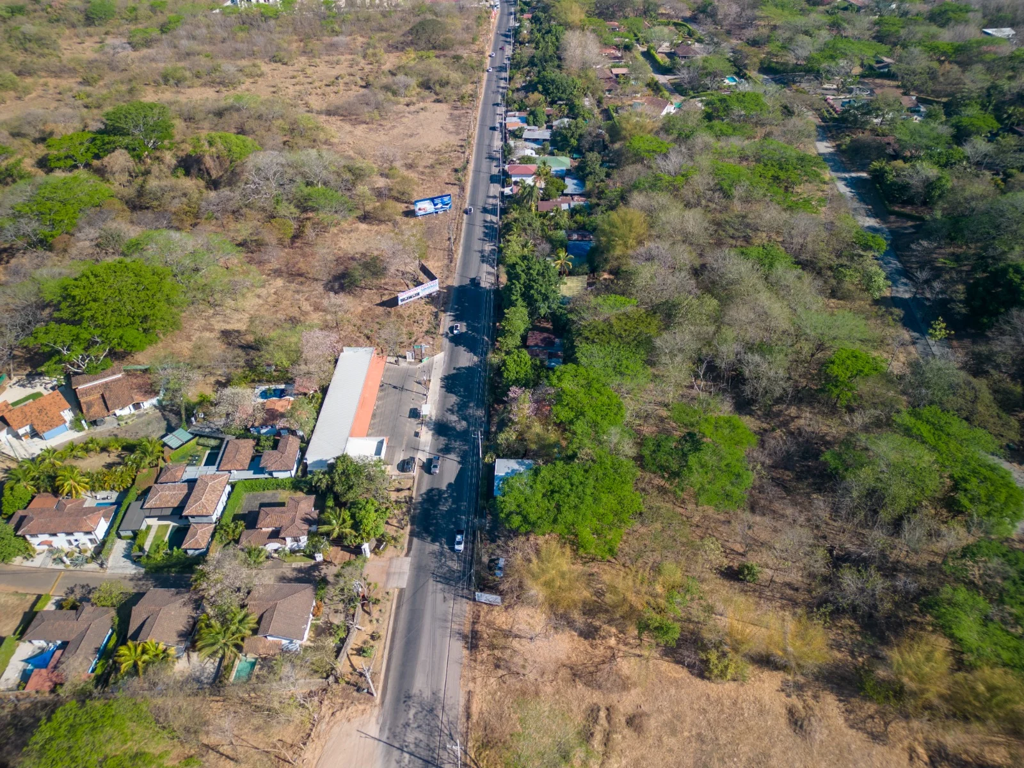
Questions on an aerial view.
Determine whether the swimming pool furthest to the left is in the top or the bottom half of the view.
bottom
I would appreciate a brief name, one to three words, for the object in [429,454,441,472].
vehicle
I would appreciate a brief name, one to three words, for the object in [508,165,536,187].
house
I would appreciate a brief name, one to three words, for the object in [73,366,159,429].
house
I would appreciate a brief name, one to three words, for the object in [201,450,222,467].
swimming pool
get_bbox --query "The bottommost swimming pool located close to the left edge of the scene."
[18,666,38,688]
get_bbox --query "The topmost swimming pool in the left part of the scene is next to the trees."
[254,386,289,402]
